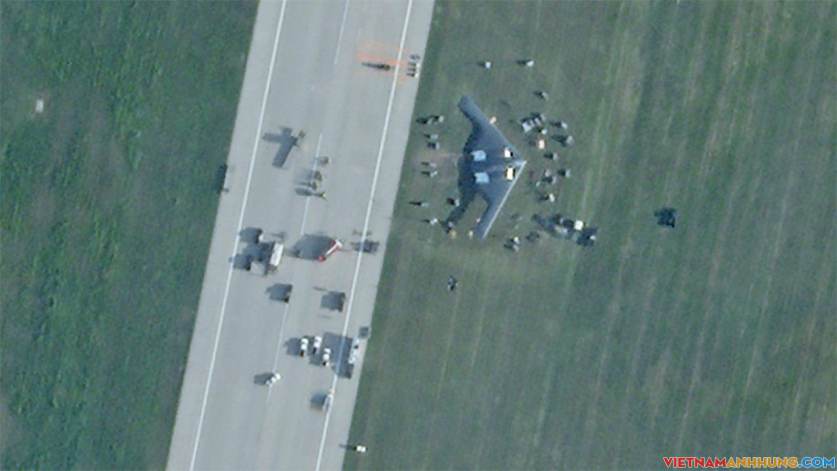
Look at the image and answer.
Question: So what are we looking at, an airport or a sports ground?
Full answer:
This image shows an airport.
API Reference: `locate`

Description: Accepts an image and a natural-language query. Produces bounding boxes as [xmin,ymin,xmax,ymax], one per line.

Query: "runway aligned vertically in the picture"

[167,0,435,471]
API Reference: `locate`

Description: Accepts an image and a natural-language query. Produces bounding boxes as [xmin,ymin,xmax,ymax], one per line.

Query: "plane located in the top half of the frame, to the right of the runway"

[458,97,525,240]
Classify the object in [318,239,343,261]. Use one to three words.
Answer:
truck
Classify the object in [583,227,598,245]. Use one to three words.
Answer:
vehicle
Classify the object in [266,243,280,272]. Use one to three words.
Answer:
vehicle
